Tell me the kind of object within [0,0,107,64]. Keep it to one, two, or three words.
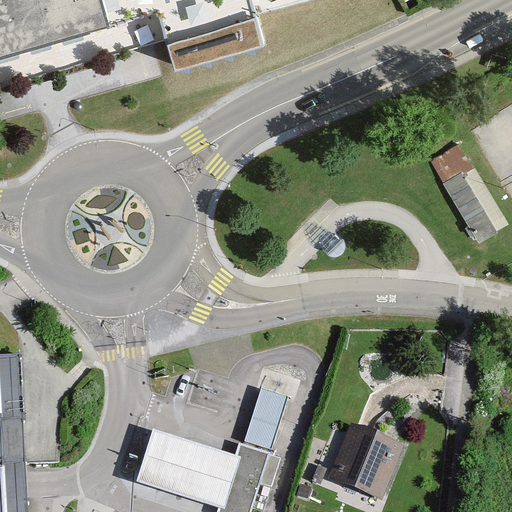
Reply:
building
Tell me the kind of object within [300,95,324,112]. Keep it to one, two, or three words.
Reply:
car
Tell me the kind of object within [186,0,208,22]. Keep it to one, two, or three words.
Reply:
umbrella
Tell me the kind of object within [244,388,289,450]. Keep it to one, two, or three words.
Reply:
building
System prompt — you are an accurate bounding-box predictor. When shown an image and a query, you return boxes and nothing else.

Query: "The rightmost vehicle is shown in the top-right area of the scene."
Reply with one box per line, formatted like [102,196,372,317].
[464,33,486,50]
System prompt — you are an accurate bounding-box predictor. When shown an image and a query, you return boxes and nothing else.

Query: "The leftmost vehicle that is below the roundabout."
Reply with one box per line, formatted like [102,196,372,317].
[124,452,137,475]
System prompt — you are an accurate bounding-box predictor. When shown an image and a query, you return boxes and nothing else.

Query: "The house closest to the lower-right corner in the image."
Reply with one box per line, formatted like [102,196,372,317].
[328,424,404,500]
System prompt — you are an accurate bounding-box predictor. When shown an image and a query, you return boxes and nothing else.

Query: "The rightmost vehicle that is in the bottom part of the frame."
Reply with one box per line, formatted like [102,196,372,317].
[176,373,190,396]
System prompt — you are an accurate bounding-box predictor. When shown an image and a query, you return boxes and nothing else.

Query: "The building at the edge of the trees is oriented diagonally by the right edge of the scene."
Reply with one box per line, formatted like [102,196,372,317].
[432,144,509,243]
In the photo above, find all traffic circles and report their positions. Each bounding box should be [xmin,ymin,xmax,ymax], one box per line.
[21,140,198,317]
